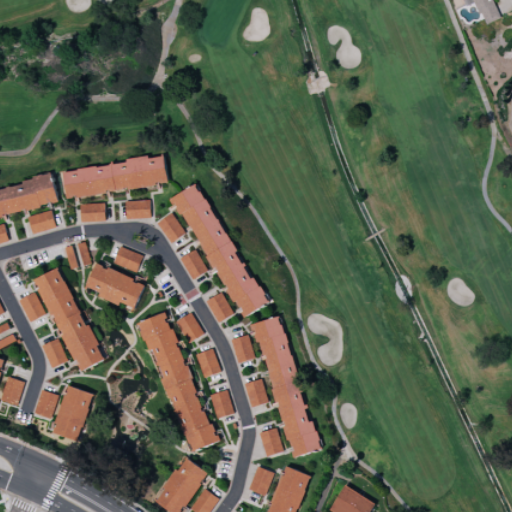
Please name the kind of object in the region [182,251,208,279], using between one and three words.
building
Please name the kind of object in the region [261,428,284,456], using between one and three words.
building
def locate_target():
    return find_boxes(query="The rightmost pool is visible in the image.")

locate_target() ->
[457,4,485,24]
